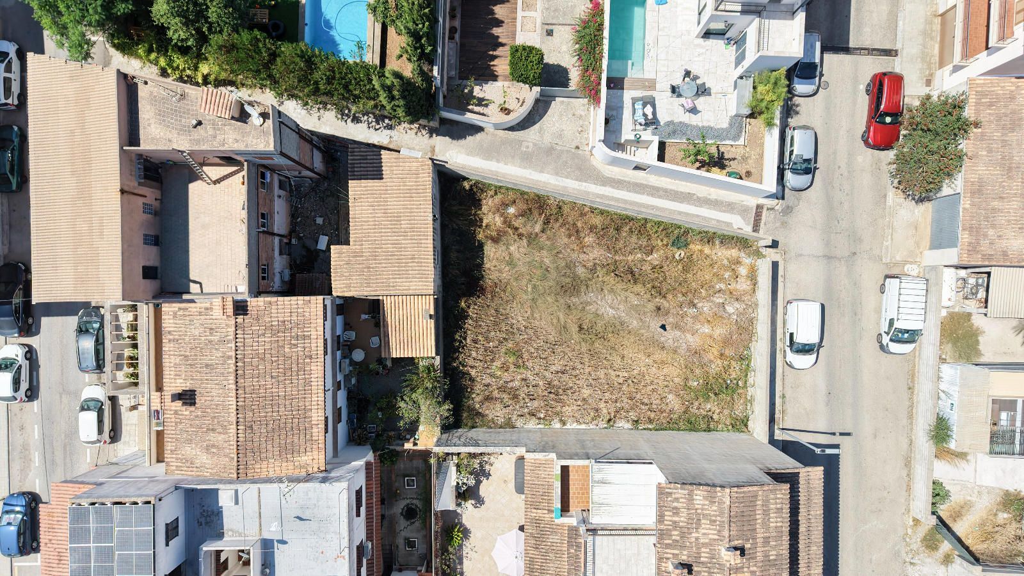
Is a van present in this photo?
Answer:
Yes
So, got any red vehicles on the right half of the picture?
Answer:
Yes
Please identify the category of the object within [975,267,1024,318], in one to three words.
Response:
shed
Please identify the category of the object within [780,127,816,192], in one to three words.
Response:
car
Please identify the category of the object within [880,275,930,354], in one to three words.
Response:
van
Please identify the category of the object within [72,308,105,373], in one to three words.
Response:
car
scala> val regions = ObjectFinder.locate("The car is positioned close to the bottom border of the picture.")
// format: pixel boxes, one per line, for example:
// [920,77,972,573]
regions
[0,490,36,556]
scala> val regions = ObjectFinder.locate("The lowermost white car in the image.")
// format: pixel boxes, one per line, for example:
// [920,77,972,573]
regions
[75,382,113,445]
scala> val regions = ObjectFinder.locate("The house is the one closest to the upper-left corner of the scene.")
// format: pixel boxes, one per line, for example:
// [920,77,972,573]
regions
[25,58,323,301]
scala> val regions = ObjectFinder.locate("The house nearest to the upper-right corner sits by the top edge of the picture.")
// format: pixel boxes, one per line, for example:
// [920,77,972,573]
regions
[938,0,1024,89]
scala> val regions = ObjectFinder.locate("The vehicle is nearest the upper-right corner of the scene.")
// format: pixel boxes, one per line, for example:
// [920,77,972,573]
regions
[864,76,905,149]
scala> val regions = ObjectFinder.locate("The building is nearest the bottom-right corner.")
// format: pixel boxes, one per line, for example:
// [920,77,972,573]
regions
[940,360,1024,458]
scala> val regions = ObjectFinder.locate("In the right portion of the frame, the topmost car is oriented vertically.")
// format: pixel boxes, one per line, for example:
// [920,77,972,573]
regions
[788,30,824,96]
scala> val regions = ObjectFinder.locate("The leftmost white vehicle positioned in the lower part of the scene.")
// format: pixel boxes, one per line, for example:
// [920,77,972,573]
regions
[0,343,30,404]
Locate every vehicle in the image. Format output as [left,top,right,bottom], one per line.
[0,126,26,193]
[0,490,36,556]
[864,76,905,149]
[780,127,816,192]
[788,30,824,96]
[786,299,825,369]
[72,308,105,373]
[0,41,23,111]
[75,382,113,445]
[0,343,30,404]
[880,275,930,354]
[0,263,32,337]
